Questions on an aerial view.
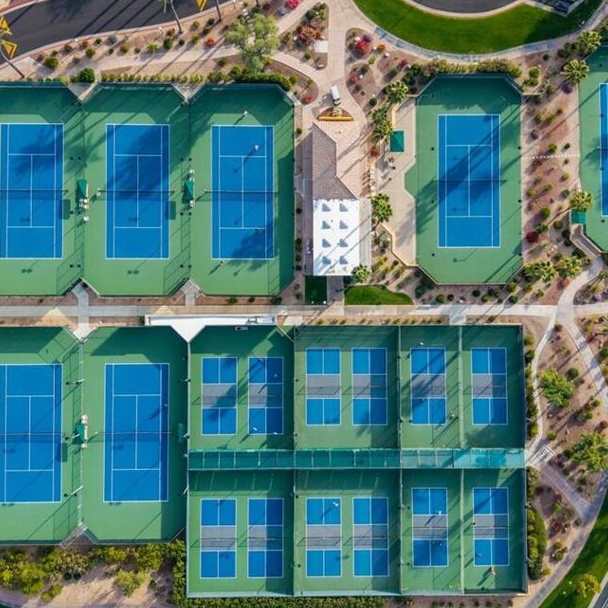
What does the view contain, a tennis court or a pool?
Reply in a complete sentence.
There is a tennis court in the scene.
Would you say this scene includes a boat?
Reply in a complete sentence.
No, I can see no boat in this picture.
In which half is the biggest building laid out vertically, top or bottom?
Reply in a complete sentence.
The biggest building laid out vertically is in the top half of the image.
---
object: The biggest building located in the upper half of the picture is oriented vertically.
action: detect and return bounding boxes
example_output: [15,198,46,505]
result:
[312,123,370,276]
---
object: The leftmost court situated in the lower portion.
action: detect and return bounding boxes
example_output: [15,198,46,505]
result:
[0,328,81,541]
